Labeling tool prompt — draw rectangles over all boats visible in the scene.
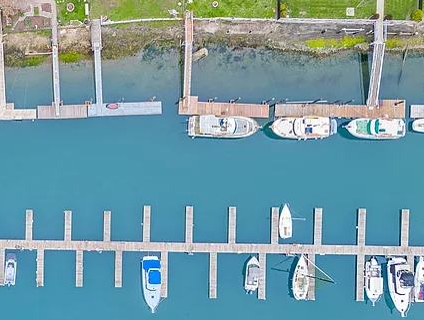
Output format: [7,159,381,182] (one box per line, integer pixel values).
[243,258,259,292]
[384,254,416,318]
[268,116,334,140]
[142,251,162,315]
[279,205,298,237]
[410,118,424,133]
[414,258,424,301]
[292,254,332,300]
[343,113,408,137]
[184,113,262,138]
[362,258,385,304]
[4,253,16,286]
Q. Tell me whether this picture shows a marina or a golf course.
marina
